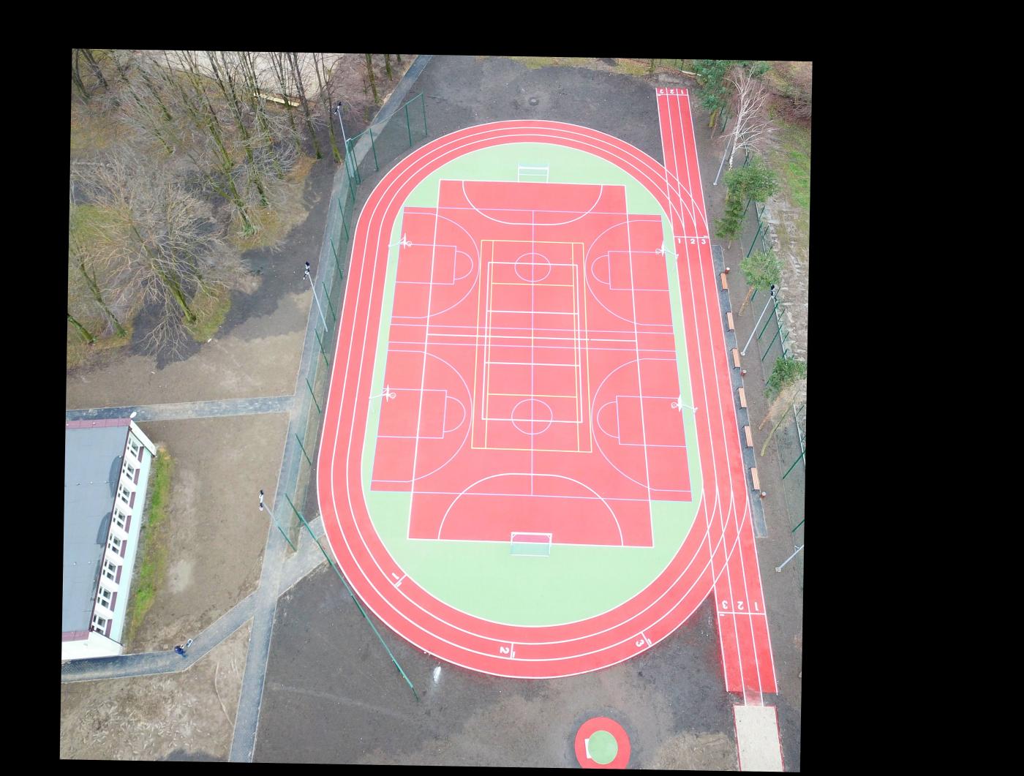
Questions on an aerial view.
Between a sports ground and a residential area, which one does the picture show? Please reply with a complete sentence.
What you see here is a sports ground.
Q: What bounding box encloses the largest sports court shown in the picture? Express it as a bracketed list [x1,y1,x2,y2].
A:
[407,179,654,547]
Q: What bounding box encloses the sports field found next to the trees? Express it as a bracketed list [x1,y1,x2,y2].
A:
[362,143,702,625]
